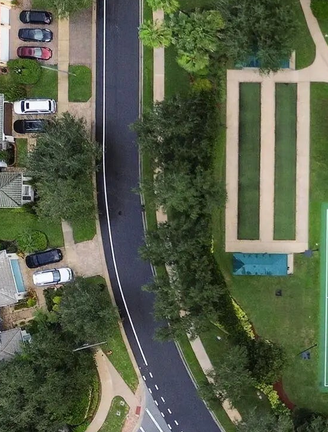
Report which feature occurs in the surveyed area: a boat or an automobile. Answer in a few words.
automobile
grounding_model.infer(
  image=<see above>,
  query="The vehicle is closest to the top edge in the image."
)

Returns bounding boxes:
[20,9,54,25]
